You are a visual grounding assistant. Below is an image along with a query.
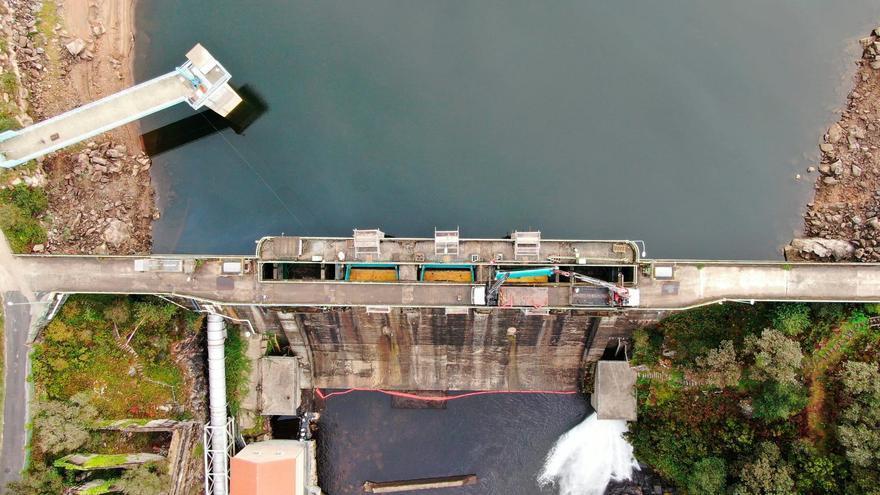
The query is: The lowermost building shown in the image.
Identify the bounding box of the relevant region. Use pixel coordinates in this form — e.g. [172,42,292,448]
[229,439,306,495]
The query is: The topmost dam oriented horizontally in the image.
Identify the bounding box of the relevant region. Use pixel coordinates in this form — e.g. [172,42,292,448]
[34,238,880,410]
